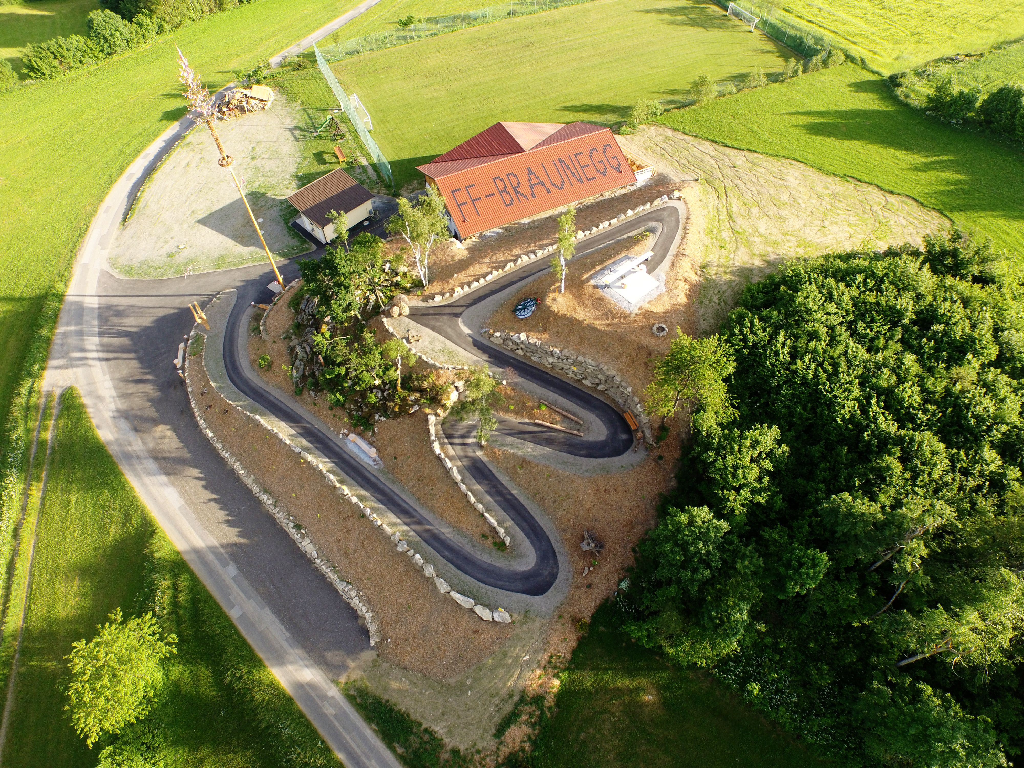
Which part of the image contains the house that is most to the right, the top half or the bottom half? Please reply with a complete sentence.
The top half of the photo is where the house that is most to the right is.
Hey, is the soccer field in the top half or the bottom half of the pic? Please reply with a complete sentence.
You can find the soccer field in the top half.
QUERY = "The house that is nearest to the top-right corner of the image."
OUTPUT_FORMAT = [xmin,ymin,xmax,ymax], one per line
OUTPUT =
[412,119,637,241]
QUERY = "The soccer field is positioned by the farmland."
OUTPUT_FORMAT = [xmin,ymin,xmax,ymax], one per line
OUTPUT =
[330,0,803,195]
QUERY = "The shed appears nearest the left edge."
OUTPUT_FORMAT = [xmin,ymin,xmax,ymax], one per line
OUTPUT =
[287,167,376,239]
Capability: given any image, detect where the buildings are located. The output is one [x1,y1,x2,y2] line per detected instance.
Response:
[412,119,637,241]
[287,167,376,239]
